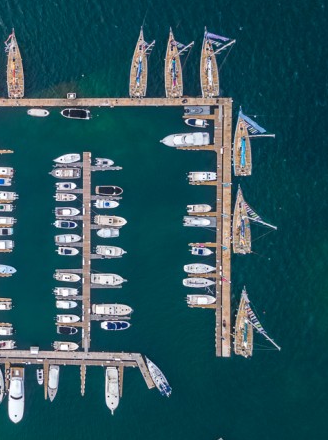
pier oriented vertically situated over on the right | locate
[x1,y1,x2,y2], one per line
[176,105,231,357]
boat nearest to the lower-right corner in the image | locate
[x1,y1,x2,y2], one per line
[231,288,275,359]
